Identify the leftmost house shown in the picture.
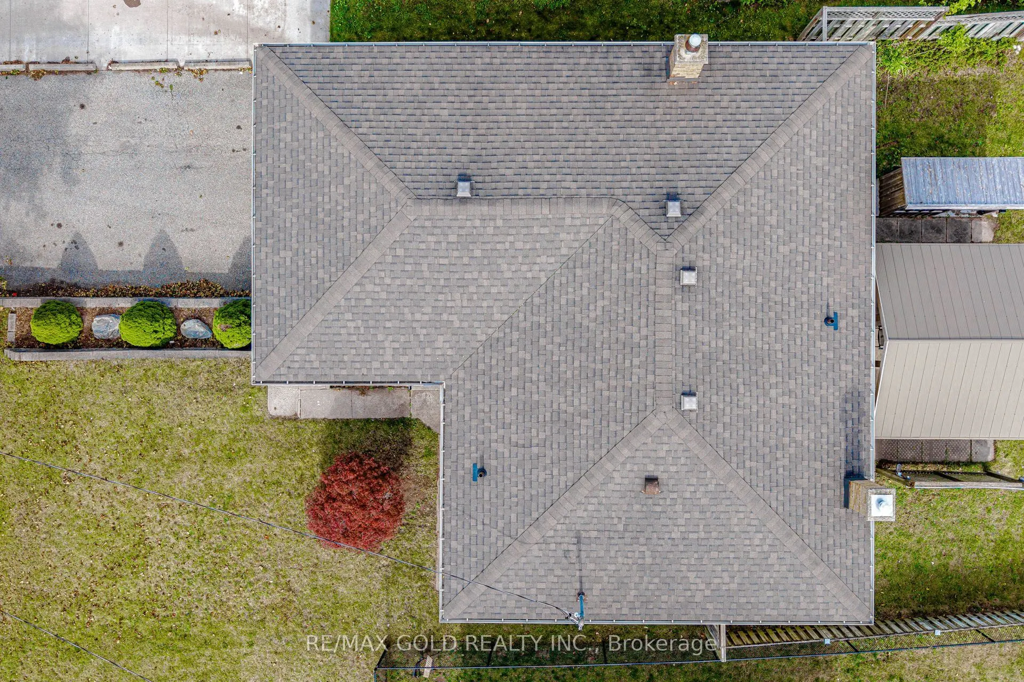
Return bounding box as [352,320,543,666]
[252,34,896,630]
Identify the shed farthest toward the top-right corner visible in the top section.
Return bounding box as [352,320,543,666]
[875,157,1024,216]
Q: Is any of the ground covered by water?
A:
No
